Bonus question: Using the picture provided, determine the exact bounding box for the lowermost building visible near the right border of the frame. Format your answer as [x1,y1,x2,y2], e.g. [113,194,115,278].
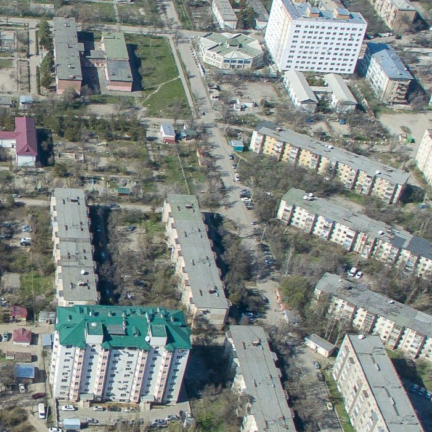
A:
[336,334,424,432]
